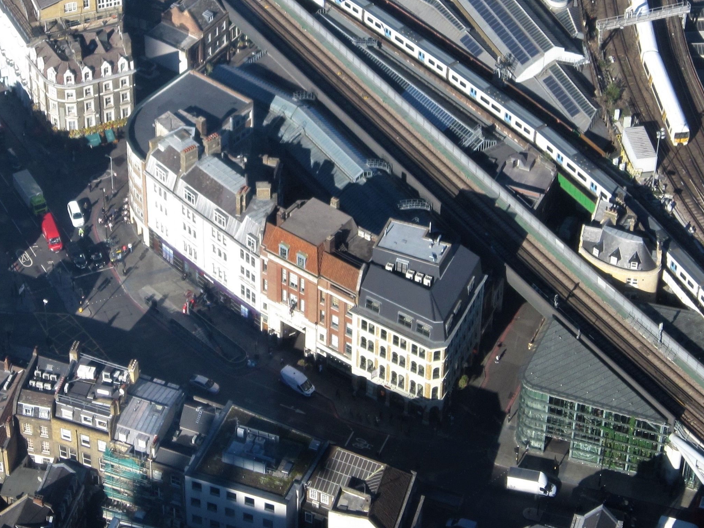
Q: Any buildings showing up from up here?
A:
Yes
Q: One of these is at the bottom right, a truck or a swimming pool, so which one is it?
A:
truck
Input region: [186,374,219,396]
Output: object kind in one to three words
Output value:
car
